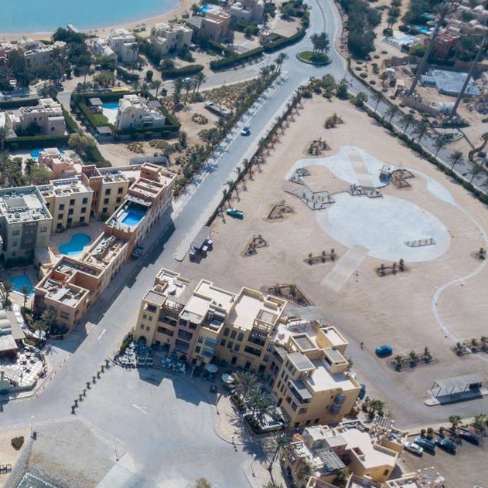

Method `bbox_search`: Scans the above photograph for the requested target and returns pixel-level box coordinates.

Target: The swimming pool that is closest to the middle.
[122,205,148,228]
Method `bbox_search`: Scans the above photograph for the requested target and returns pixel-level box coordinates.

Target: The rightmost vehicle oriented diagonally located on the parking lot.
[458,426,483,445]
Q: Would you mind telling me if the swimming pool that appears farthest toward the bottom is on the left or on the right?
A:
left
